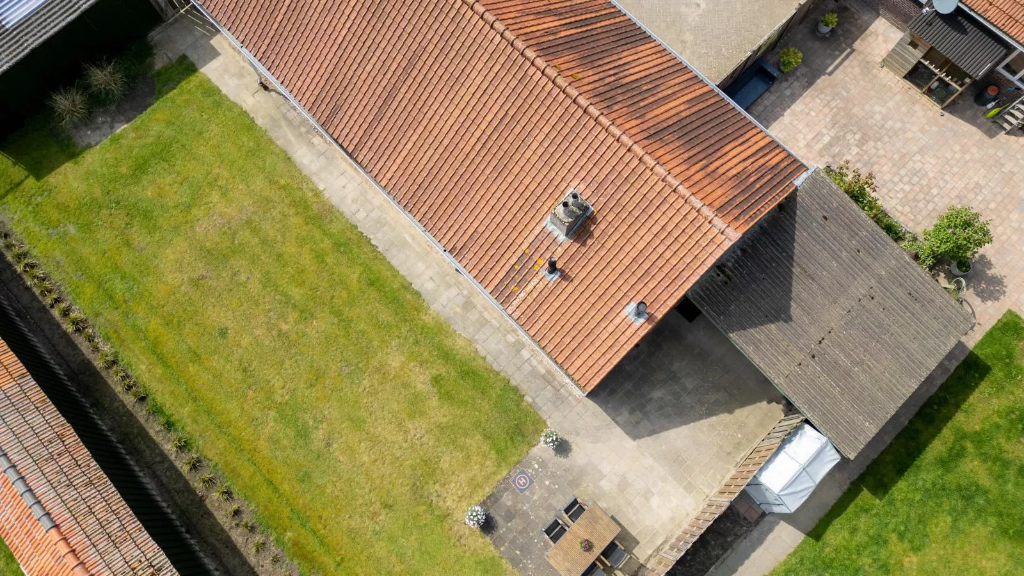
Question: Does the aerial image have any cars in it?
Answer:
No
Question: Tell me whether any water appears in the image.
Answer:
No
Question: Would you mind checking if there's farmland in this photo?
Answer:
No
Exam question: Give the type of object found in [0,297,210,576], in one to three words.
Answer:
shed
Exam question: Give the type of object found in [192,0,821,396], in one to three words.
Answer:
house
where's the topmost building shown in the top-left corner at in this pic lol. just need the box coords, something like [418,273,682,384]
[0,0,148,143]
